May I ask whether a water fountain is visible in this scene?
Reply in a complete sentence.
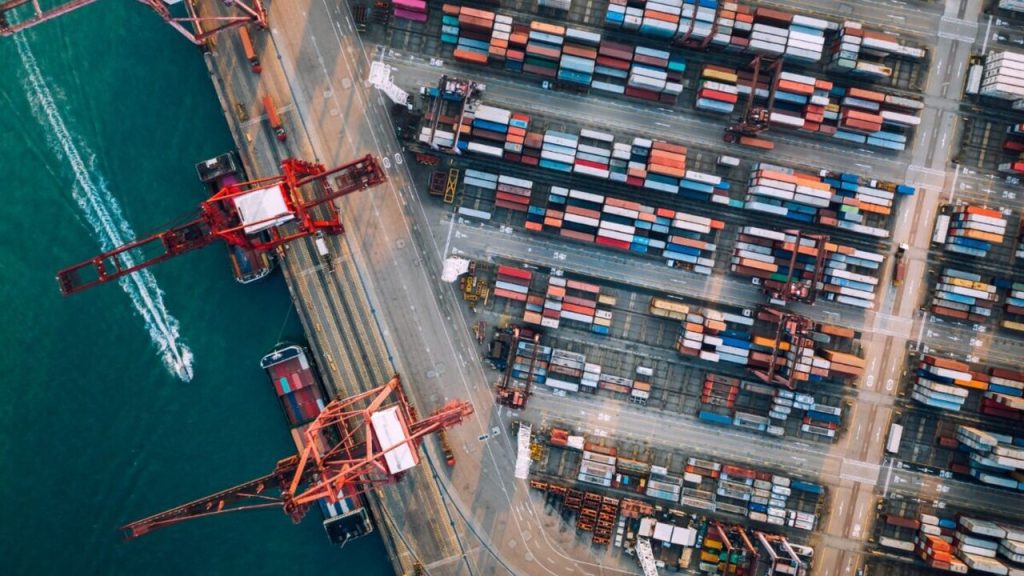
No, I can see no water fountain in this picture.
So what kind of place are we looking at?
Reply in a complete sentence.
The picture captures a port.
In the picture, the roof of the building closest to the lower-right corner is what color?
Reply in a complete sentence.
From above, the roof of the building closest to the lower-right corner looks white.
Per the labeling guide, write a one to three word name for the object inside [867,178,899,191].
vehicle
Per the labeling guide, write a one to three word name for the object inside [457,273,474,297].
work vehicle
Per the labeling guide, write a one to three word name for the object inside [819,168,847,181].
vehicle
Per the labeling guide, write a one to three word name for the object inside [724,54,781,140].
container crane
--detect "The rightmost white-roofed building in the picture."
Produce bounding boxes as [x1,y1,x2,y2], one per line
[642,520,700,549]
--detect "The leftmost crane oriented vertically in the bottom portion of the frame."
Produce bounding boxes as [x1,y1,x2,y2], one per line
[497,324,545,407]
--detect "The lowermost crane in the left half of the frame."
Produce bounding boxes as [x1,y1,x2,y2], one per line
[118,369,476,540]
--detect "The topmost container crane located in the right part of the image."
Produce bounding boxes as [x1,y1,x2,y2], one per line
[674,0,722,54]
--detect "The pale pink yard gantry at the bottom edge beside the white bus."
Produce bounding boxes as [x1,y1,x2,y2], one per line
[757,531,807,576]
